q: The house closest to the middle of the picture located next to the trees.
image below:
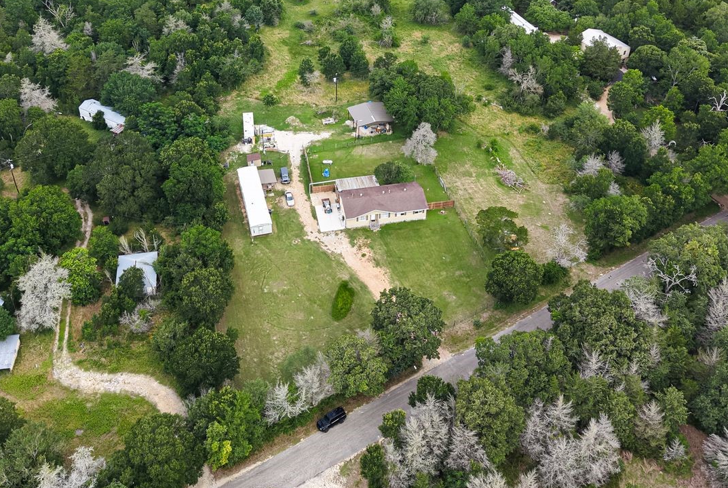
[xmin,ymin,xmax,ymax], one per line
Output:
[335,182,429,232]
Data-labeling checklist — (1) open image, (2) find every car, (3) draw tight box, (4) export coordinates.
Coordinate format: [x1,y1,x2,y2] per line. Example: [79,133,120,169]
[285,192,296,207]
[280,167,290,184]
[316,406,348,433]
